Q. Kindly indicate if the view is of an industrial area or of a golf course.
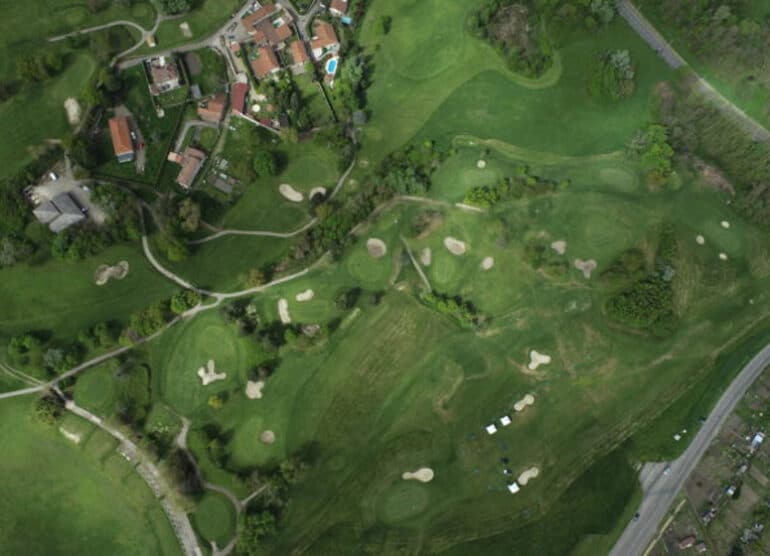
golf course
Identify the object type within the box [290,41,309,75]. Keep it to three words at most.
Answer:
house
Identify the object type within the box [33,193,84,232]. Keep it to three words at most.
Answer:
building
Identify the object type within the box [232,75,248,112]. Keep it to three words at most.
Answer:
barn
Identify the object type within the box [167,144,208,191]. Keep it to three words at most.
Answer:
house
